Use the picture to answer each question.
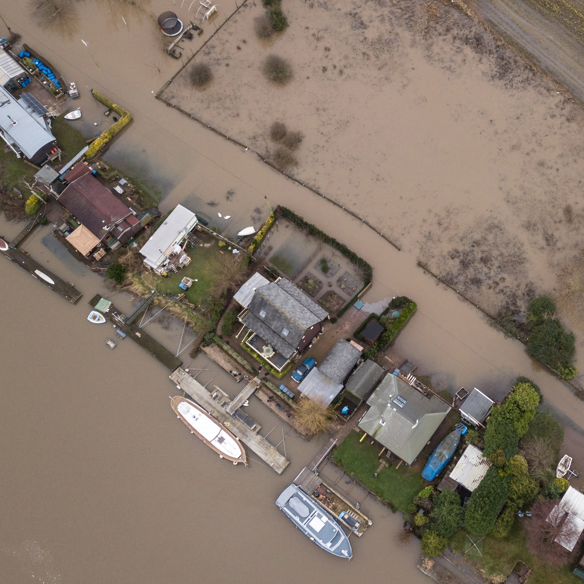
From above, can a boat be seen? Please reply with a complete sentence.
Yes, a boat is visible in the scene.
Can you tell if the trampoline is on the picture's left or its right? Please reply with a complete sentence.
The trampoline sits on the left side.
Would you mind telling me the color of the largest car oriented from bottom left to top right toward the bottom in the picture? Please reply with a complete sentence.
In this view, the largest car oriented from bottom left to top right toward the bottom is blue.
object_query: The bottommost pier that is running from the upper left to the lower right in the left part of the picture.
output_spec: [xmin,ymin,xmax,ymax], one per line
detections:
[170,367,290,474]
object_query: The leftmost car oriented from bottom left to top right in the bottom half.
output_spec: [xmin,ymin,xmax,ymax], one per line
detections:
[292,357,316,382]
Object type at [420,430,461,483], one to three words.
boat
